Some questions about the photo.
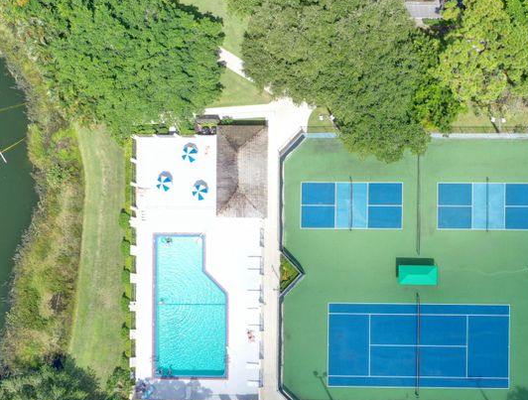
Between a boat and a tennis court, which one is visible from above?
tennis court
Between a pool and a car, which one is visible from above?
pool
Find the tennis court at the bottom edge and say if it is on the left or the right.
right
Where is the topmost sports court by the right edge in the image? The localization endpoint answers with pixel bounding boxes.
[437,177,528,232]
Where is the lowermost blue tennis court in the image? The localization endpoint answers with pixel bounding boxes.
[327,295,510,395]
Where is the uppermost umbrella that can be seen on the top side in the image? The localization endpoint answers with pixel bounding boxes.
[180,145,198,161]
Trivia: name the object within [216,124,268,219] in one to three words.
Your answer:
building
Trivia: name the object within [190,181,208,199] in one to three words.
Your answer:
umbrella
